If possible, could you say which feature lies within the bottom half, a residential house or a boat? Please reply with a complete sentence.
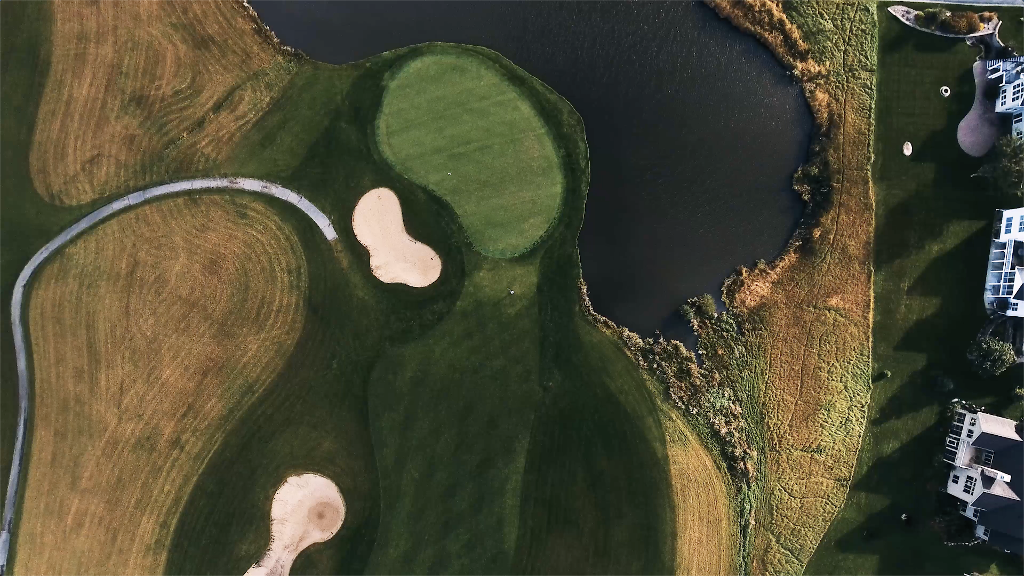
The one visible within the bottom half is a residential house.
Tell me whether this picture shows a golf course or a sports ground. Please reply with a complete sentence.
The picture captures a golf course.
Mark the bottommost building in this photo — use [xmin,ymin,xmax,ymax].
[941,410,1024,557]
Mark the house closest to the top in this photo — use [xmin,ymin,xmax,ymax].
[980,50,1024,149]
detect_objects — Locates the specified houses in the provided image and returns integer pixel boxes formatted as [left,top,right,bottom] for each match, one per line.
[984,209,1024,321]
[980,50,1024,149]
[941,410,1024,557]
